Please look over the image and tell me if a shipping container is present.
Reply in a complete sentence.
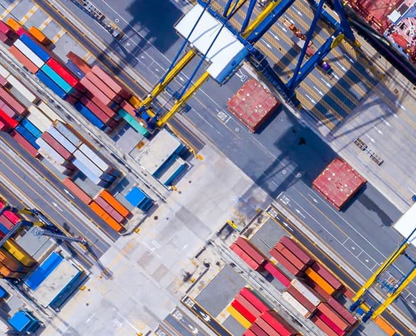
Yes, a shipping container is visible in the scene.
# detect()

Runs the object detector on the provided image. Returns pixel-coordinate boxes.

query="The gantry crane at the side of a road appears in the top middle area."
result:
[134,0,366,135]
